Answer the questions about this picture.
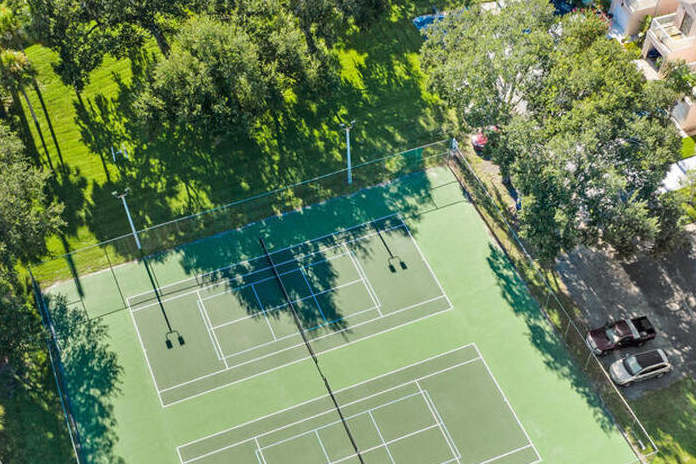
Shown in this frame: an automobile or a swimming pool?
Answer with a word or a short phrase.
automobile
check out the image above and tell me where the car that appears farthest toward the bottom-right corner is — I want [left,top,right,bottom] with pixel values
[611,348,675,390]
